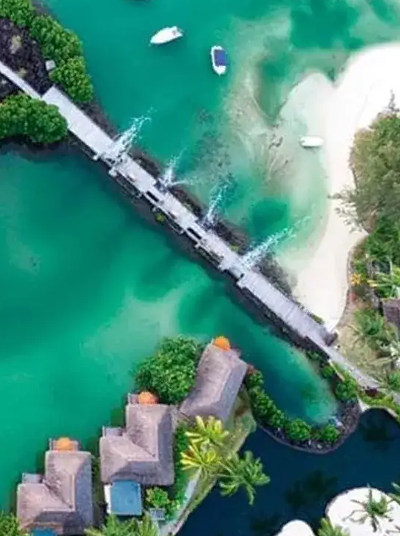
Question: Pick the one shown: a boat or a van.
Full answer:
Of the two, only a boat appears.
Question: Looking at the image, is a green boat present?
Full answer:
No, I find no green boat anywhere in the image.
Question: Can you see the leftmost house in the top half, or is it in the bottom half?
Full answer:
The bottom half of the photo is where the leftmost house is.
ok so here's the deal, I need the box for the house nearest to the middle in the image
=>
[178,336,247,425]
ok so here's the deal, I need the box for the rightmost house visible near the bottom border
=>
[99,392,175,515]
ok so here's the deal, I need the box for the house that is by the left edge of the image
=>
[17,438,94,536]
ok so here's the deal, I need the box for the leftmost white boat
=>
[150,25,184,44]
